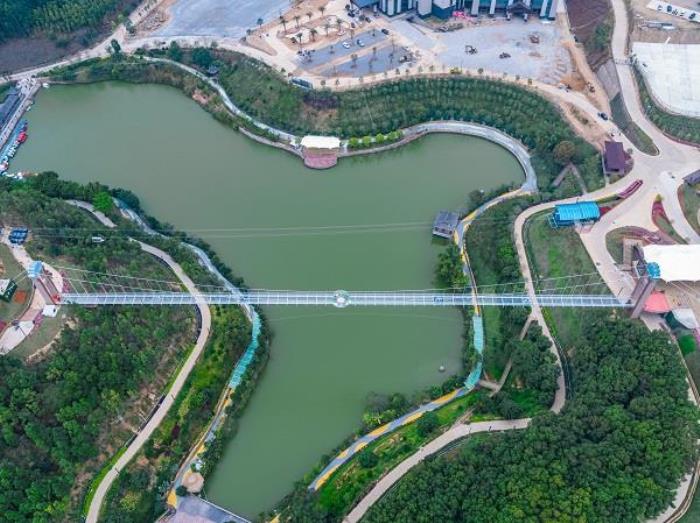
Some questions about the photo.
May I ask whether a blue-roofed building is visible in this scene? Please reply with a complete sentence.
Yes, a blue-roofed building appears in the view.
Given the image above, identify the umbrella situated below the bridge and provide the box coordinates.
[179,468,201,490]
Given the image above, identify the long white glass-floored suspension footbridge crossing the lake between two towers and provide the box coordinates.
[12,258,700,312]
